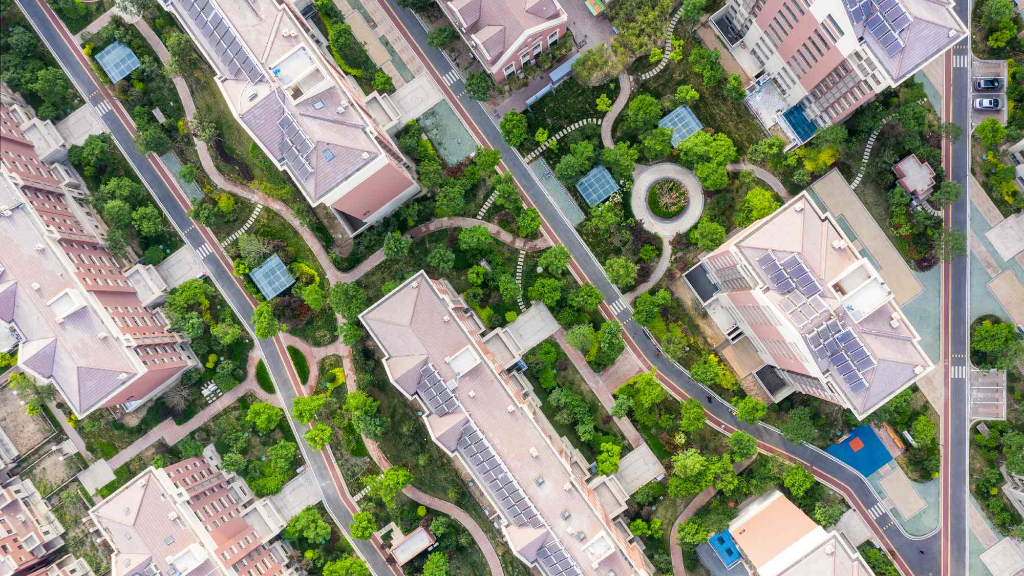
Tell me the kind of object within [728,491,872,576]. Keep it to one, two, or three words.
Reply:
building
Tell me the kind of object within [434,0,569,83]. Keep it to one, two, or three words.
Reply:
building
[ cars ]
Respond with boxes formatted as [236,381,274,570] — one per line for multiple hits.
[975,96,1006,110]
[976,76,1004,91]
